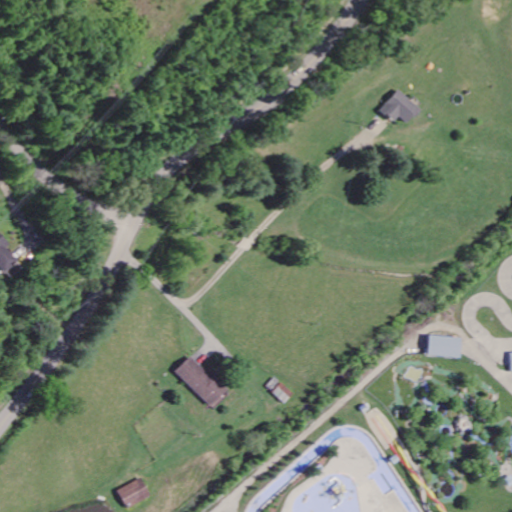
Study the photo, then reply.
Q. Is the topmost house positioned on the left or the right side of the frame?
right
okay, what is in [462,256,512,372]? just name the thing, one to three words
race track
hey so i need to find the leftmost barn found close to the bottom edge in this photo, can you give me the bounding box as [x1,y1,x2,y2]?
[116,478,149,507]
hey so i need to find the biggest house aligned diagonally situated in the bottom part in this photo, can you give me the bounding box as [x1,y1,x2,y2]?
[174,358,226,409]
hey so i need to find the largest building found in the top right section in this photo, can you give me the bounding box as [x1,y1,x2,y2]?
[380,85,420,124]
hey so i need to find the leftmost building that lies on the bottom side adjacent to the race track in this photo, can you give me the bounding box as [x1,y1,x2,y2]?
[428,334,462,358]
